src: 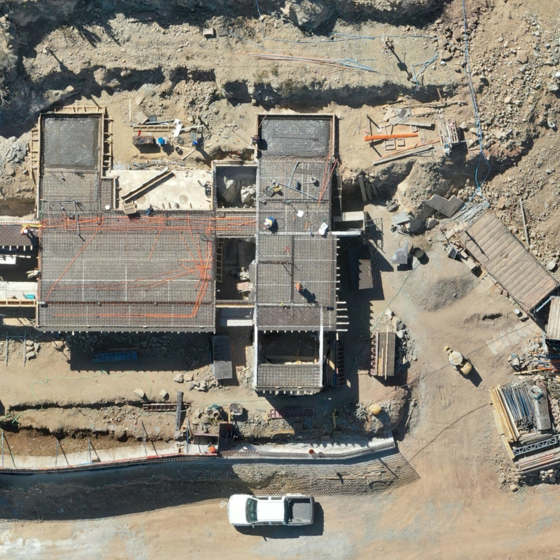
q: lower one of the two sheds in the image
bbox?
[538,297,560,340]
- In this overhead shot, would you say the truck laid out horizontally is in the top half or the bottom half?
bottom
